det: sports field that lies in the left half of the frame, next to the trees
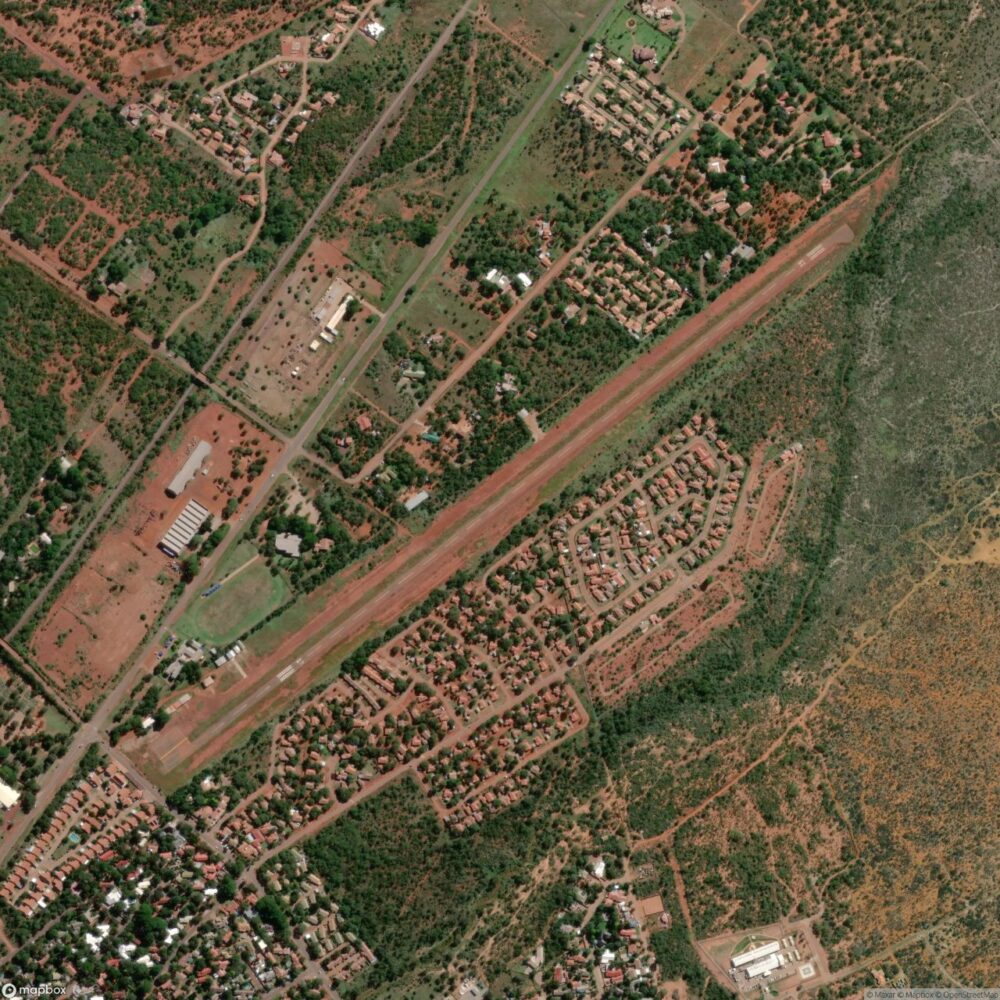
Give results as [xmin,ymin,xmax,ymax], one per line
[188,558,284,648]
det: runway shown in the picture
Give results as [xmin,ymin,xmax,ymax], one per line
[148,212,854,772]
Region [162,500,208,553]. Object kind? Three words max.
building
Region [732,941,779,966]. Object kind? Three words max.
building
